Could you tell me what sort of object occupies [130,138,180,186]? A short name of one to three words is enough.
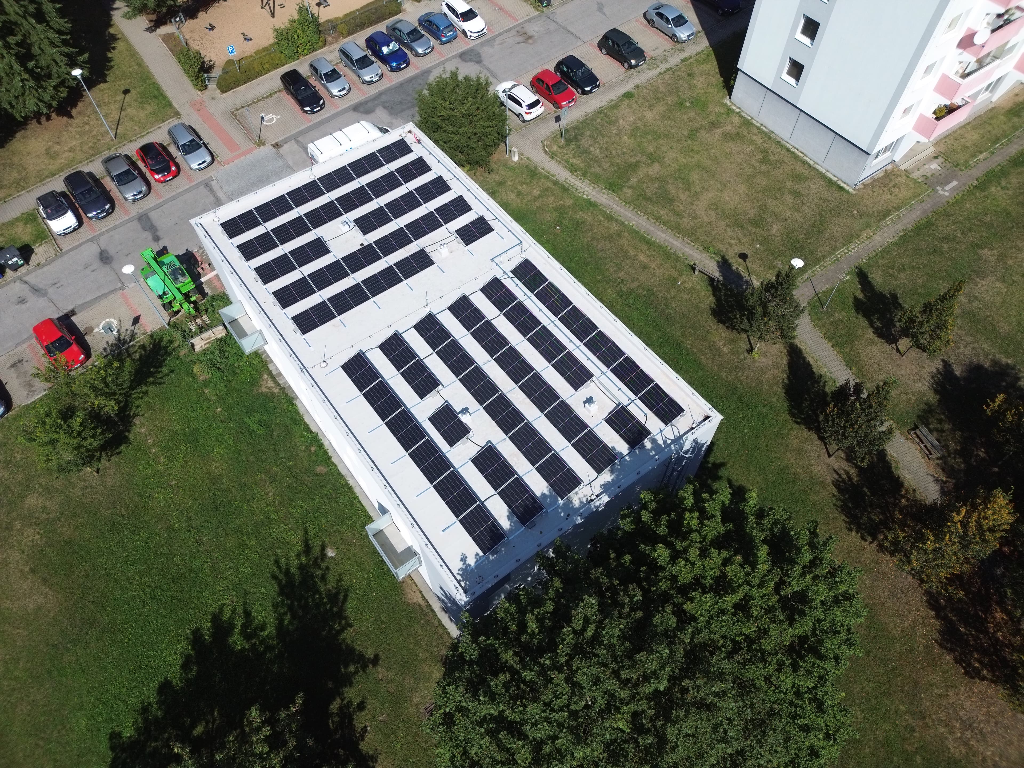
car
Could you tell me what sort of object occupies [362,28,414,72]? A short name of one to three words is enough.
car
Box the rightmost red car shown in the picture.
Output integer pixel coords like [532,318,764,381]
[529,66,581,110]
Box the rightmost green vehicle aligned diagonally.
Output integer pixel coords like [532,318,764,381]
[139,247,211,337]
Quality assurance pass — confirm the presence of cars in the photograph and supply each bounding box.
[96,148,150,205]
[553,53,605,95]
[333,38,386,85]
[162,120,214,172]
[529,66,581,110]
[387,16,438,57]
[304,54,354,99]
[598,28,651,70]
[436,0,491,39]
[130,138,180,186]
[415,10,461,46]
[492,77,548,122]
[60,165,114,224]
[33,186,82,238]
[644,2,700,43]
[24,308,89,372]
[362,28,414,72]
[274,66,328,114]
